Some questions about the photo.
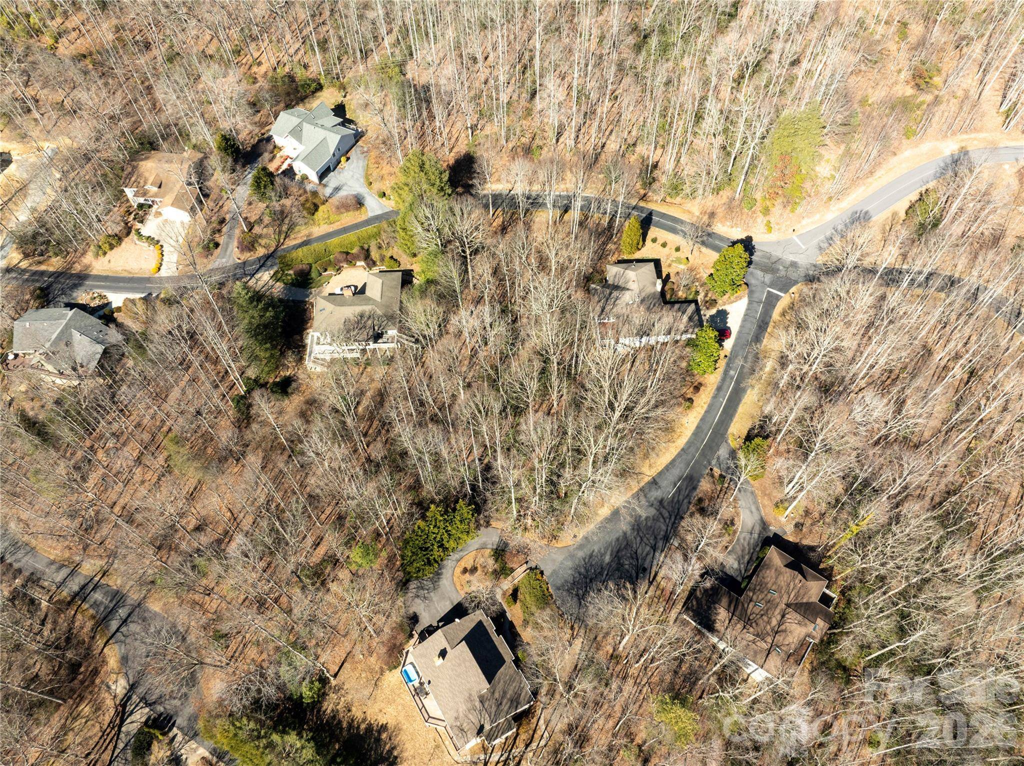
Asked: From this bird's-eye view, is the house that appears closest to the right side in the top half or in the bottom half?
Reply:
bottom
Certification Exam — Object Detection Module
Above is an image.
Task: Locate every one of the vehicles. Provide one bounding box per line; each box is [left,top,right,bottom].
[334,284,357,295]
[710,328,733,340]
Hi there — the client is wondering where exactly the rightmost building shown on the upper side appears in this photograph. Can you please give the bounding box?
[589,262,702,348]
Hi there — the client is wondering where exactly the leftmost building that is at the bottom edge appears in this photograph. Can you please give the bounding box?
[399,610,535,753]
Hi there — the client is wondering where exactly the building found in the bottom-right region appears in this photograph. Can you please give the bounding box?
[682,546,840,680]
